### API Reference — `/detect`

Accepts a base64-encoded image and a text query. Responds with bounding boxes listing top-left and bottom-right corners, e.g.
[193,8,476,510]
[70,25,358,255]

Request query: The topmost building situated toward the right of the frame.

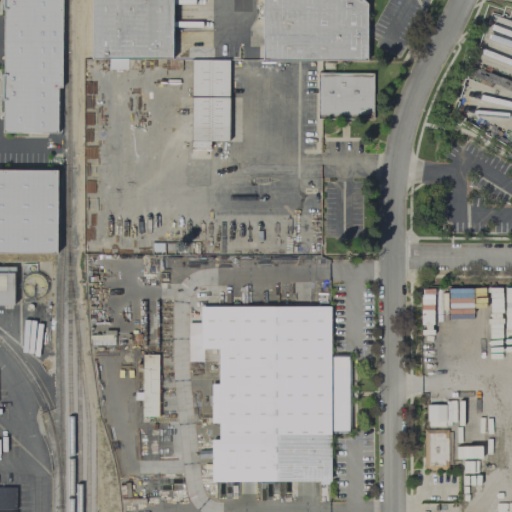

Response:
[265,0,370,61]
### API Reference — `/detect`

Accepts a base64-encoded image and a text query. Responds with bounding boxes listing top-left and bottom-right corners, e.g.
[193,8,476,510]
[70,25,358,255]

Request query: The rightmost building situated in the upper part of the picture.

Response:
[320,73,376,119]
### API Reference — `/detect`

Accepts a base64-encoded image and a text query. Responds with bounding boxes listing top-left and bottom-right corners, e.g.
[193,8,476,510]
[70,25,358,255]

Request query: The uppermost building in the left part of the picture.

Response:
[93,0,175,59]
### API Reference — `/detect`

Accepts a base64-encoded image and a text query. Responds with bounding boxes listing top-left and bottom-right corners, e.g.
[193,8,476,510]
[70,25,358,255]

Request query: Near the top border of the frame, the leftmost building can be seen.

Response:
[3,0,64,133]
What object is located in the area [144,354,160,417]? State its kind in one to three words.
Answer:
building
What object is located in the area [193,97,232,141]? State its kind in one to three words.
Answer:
shed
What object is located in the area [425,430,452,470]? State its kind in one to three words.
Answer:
building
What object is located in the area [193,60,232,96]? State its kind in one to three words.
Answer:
shed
